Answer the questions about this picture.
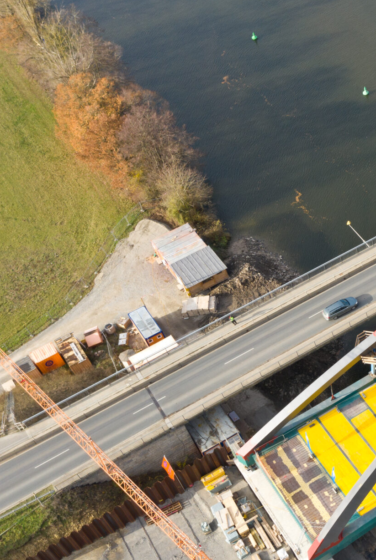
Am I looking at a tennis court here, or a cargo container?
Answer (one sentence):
The one in the frame is a cargo container.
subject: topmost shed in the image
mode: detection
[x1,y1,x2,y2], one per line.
[152,224,229,302]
